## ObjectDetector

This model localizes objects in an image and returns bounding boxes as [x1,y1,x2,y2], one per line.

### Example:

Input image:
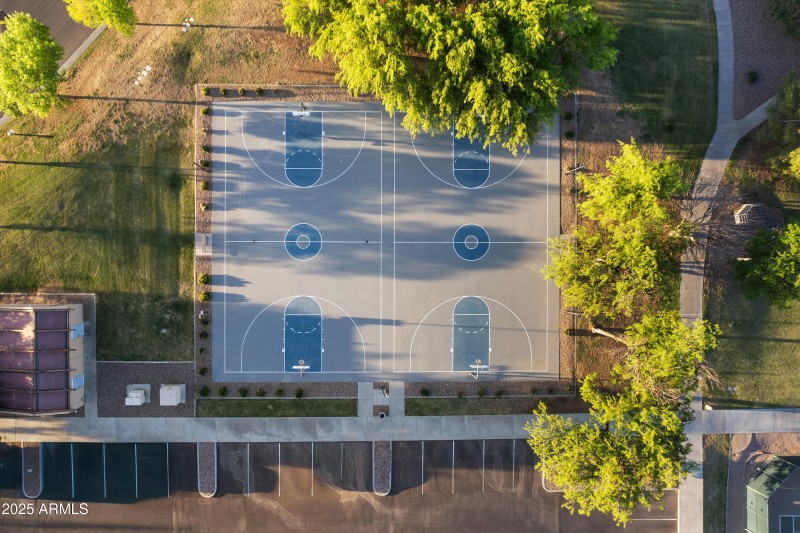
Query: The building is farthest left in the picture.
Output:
[0,303,84,417]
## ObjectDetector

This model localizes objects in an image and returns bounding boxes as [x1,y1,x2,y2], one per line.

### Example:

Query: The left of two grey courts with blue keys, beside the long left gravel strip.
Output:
[211,102,388,381]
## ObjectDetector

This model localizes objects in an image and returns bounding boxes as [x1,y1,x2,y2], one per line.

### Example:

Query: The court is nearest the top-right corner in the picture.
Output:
[388,102,559,381]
